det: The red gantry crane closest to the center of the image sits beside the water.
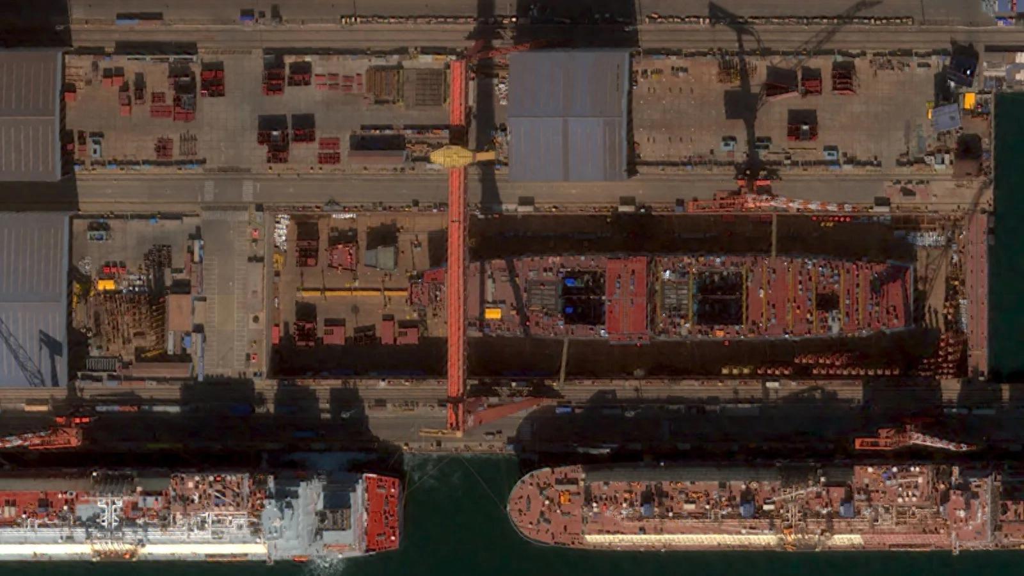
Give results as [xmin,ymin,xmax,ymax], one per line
[430,39,566,431]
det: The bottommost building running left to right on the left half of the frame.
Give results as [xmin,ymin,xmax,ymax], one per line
[131,363,194,376]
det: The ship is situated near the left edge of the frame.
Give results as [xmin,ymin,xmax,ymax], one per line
[0,467,403,565]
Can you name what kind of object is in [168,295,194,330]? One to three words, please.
shed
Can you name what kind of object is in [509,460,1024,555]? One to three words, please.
ship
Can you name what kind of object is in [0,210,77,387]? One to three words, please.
shed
